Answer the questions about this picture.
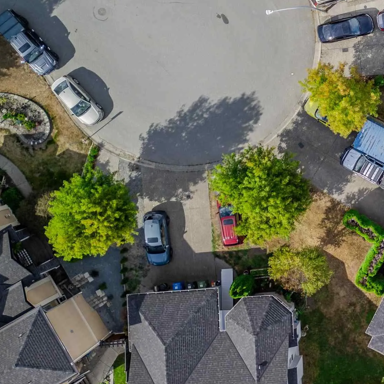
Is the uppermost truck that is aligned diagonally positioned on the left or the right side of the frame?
left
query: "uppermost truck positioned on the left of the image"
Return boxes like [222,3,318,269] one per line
[0,6,56,75]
